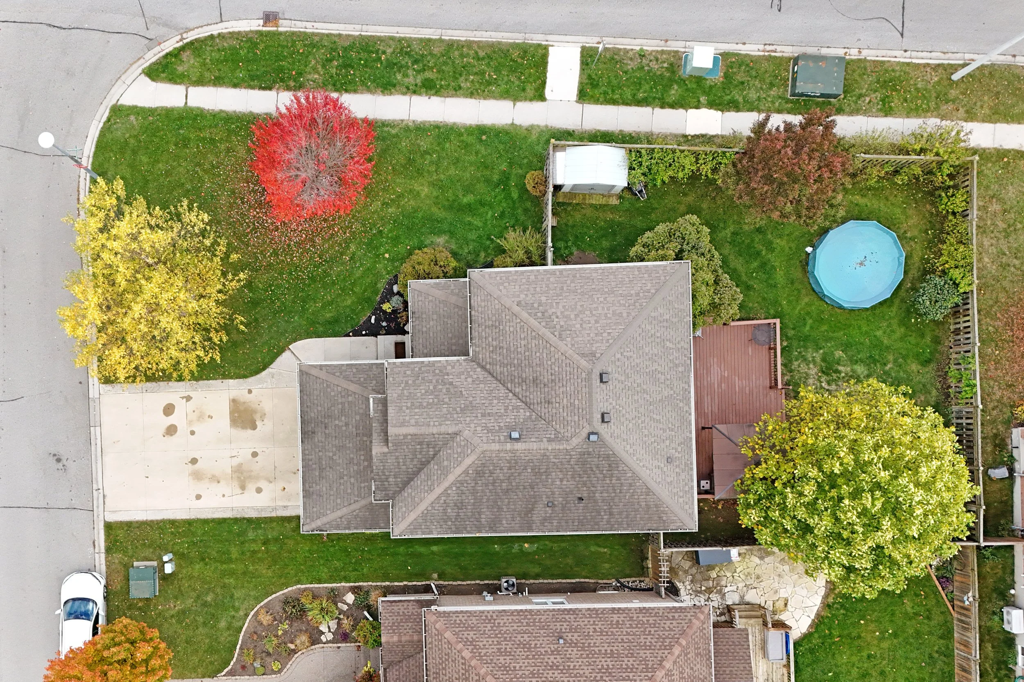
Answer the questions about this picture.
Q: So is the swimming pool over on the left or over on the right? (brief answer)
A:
right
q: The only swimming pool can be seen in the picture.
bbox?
[808,220,905,309]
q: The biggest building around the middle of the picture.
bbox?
[298,260,697,538]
